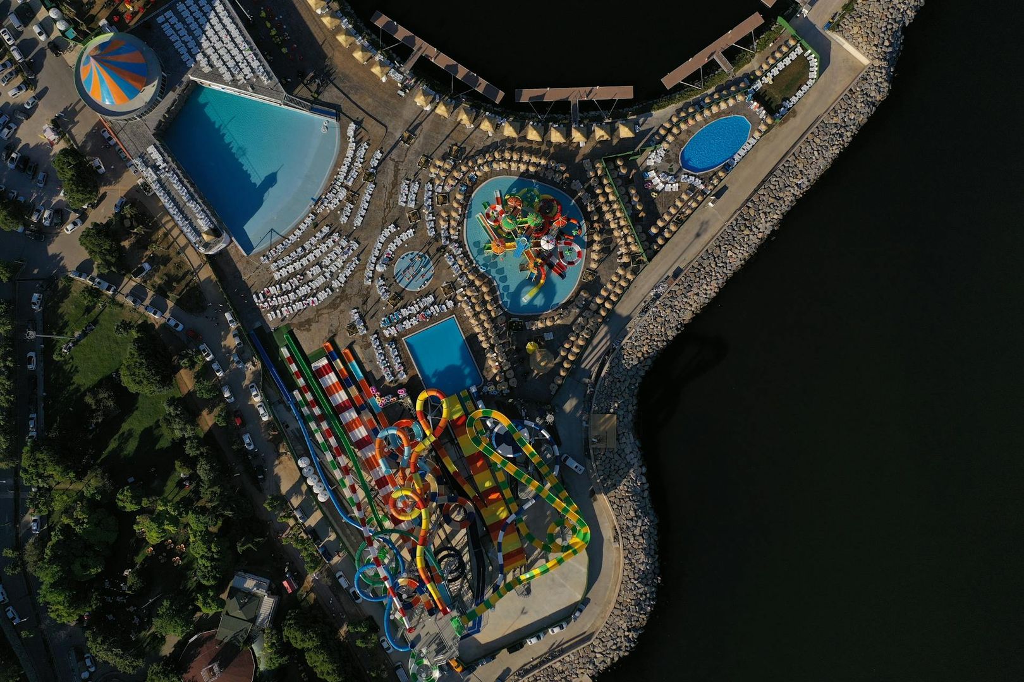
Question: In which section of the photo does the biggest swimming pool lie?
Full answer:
The biggest swimming pool is located in the top left region of the scene.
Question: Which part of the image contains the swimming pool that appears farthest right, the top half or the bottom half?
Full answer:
You can find the swimming pool that appears farthest right in the top half.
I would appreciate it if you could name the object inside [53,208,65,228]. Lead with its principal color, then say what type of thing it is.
black vehicle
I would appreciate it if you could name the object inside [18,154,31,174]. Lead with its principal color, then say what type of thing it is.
black vehicle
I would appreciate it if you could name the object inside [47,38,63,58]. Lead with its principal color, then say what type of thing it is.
black car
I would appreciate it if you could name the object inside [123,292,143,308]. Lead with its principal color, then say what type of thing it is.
gray car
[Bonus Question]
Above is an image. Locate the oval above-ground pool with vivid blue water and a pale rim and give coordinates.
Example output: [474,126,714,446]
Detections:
[677,112,755,176]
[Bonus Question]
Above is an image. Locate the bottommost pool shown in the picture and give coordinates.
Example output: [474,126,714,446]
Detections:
[404,316,482,407]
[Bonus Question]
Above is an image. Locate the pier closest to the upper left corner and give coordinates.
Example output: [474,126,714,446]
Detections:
[369,10,505,104]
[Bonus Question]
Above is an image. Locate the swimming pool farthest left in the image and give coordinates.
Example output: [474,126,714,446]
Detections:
[172,86,340,254]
